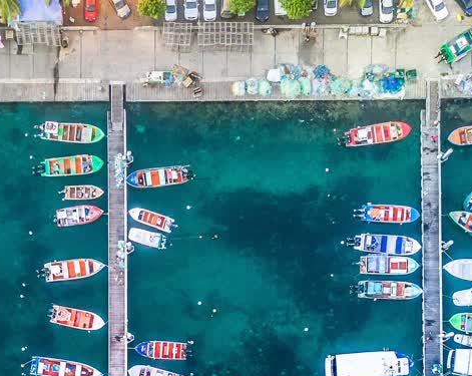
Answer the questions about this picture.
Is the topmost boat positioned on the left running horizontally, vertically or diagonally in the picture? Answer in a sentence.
The topmost boat positioned on the left is laid out horizontally.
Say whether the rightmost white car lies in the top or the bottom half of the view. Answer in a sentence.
Seen from above, the rightmost white car lies in the top half of the view.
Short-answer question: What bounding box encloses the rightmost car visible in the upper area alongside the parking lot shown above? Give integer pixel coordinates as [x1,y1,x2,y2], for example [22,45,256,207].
[425,0,450,21]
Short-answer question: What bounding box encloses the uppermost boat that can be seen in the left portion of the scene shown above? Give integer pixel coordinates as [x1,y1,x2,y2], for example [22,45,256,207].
[34,121,111,143]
